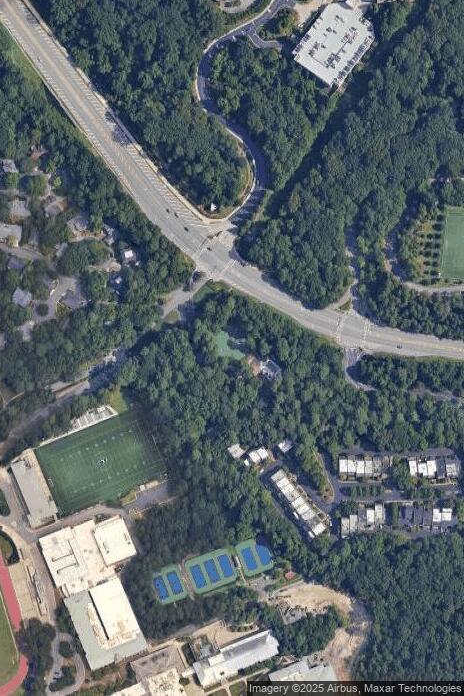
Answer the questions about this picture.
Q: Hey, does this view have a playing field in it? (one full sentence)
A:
Yes, there's a playing field here.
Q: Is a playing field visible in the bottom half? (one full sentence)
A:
Yes, a playing field is visible in the bottom half.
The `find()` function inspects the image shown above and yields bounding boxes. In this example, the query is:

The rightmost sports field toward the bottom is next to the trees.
[34,405,168,519]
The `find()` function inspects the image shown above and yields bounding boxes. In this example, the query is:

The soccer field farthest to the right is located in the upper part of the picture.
[443,209,464,283]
